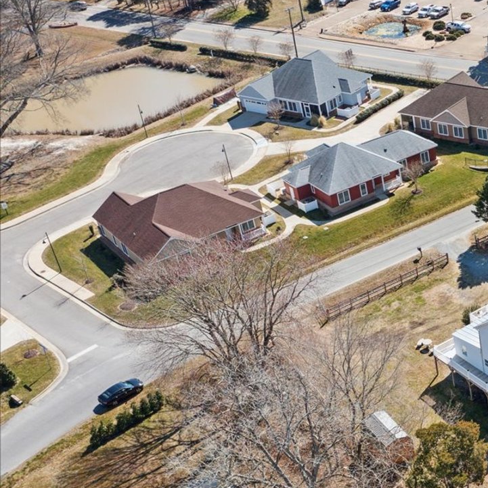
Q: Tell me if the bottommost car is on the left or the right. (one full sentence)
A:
The bottommost car appears in the left half of the scene.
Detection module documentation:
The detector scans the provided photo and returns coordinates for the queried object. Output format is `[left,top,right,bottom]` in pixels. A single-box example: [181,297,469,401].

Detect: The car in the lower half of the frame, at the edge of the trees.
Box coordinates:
[89,373,149,403]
